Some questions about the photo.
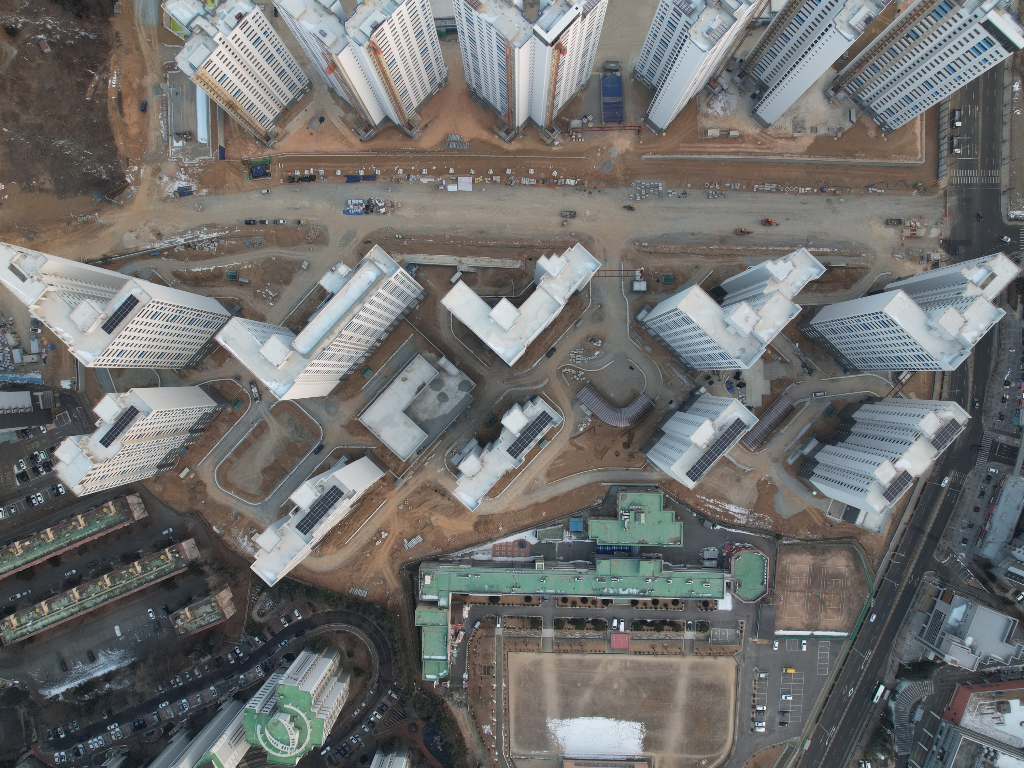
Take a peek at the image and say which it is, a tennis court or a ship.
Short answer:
tennis court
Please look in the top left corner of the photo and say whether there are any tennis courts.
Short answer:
No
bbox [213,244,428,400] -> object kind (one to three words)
building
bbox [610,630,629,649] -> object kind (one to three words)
shed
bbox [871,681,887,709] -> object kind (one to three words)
vehicle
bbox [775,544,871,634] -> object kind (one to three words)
tennis court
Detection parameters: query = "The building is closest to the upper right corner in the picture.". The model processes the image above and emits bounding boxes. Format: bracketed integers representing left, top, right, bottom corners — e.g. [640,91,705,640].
[836,0,1024,132]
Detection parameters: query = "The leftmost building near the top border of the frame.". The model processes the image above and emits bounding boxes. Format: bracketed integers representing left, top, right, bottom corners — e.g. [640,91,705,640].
[161,0,318,150]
